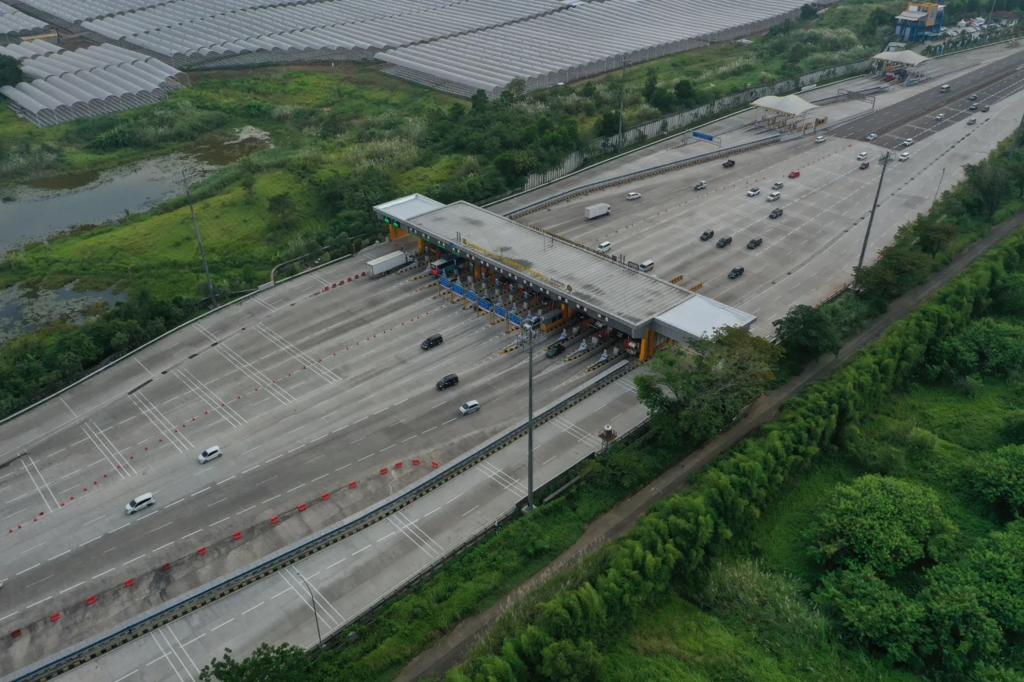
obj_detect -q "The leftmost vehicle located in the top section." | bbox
[366,250,409,275]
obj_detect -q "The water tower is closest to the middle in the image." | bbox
[601,423,627,461]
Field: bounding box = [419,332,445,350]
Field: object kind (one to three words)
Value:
car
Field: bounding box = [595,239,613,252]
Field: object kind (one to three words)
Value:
vehicle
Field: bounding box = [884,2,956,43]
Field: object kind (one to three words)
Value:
building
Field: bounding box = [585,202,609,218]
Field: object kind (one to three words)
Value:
vehicle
